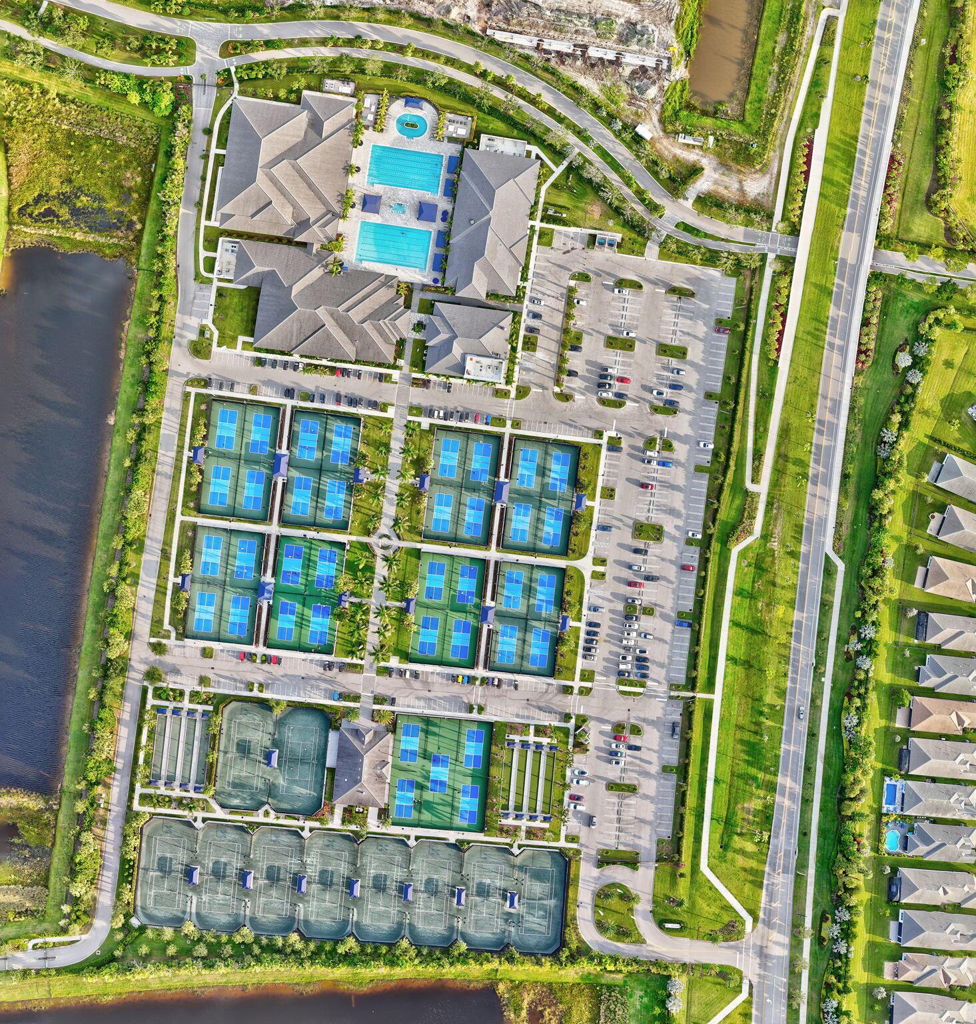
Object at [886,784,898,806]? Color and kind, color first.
blue swimming pool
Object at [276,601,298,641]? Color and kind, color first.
blue sports court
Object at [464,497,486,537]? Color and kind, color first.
blue sports court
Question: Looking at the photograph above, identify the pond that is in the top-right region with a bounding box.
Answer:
[690,0,748,100]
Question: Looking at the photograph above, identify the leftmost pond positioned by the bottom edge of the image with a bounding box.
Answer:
[0,984,500,1024]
